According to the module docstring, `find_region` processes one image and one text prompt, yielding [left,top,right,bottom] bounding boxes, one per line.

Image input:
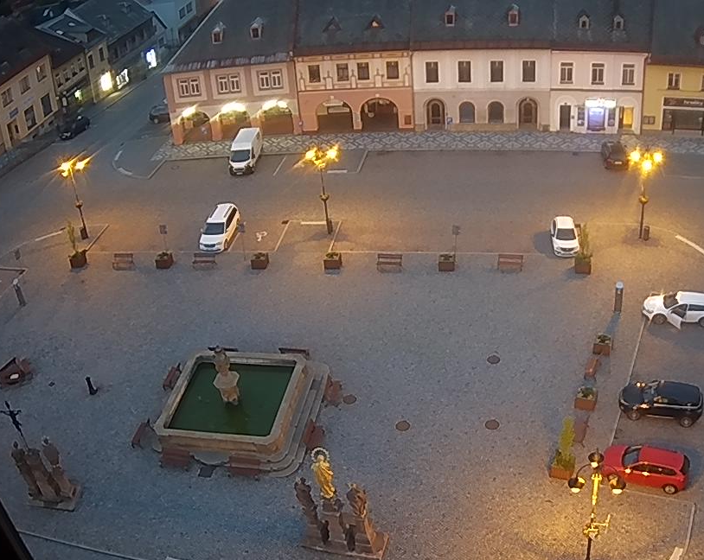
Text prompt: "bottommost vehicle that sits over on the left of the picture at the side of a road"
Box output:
[195,202,242,252]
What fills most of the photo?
paved ground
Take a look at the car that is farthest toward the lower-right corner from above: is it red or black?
red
